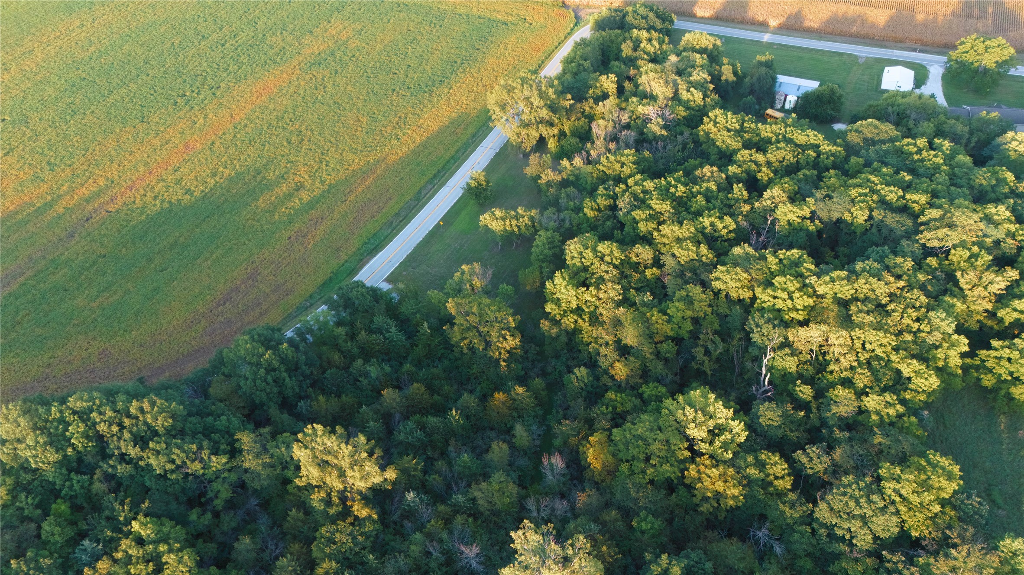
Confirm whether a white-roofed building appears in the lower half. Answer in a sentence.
No, in the lower half there is no white-roofed building.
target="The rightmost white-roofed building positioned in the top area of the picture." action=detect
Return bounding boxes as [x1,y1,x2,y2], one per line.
[882,66,916,93]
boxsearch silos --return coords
[782,95,797,113]
[771,91,785,111]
